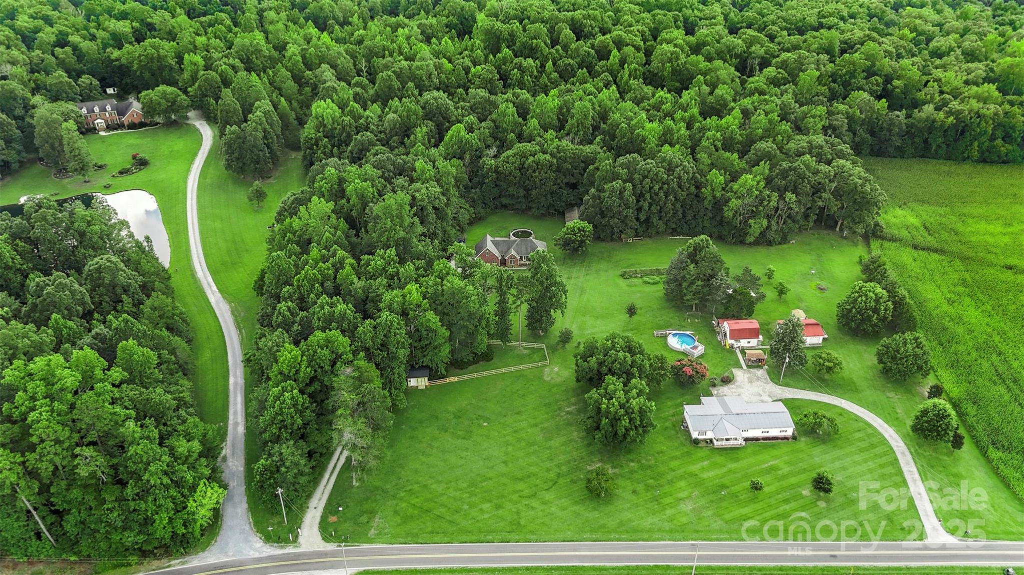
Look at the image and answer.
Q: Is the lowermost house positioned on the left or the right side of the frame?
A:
right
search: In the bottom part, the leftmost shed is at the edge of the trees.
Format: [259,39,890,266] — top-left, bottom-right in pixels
[407,371,430,391]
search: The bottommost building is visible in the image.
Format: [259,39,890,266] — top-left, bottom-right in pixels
[685,396,795,447]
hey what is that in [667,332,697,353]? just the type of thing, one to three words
swimming pool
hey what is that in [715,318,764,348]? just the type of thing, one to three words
barn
